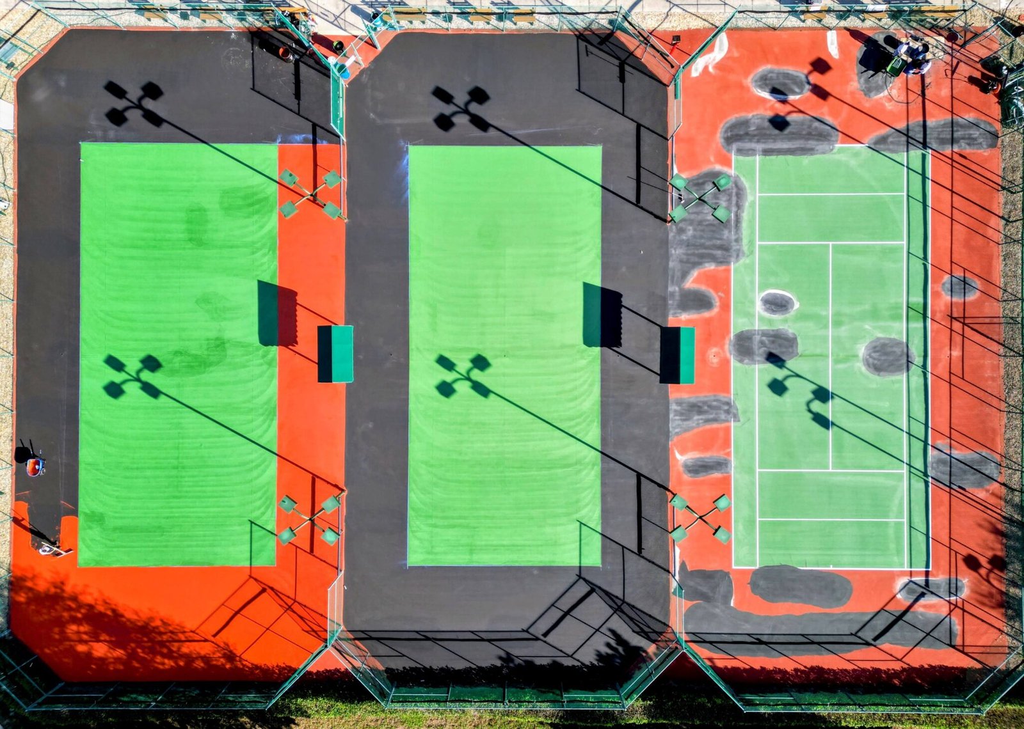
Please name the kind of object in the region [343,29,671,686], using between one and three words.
tennis court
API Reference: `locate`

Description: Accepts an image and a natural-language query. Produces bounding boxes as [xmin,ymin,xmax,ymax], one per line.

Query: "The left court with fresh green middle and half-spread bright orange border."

[8,25,346,686]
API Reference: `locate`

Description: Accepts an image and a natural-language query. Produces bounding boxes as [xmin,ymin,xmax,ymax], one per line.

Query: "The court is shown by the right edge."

[669,29,1004,687]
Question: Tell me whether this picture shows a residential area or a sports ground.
sports ground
